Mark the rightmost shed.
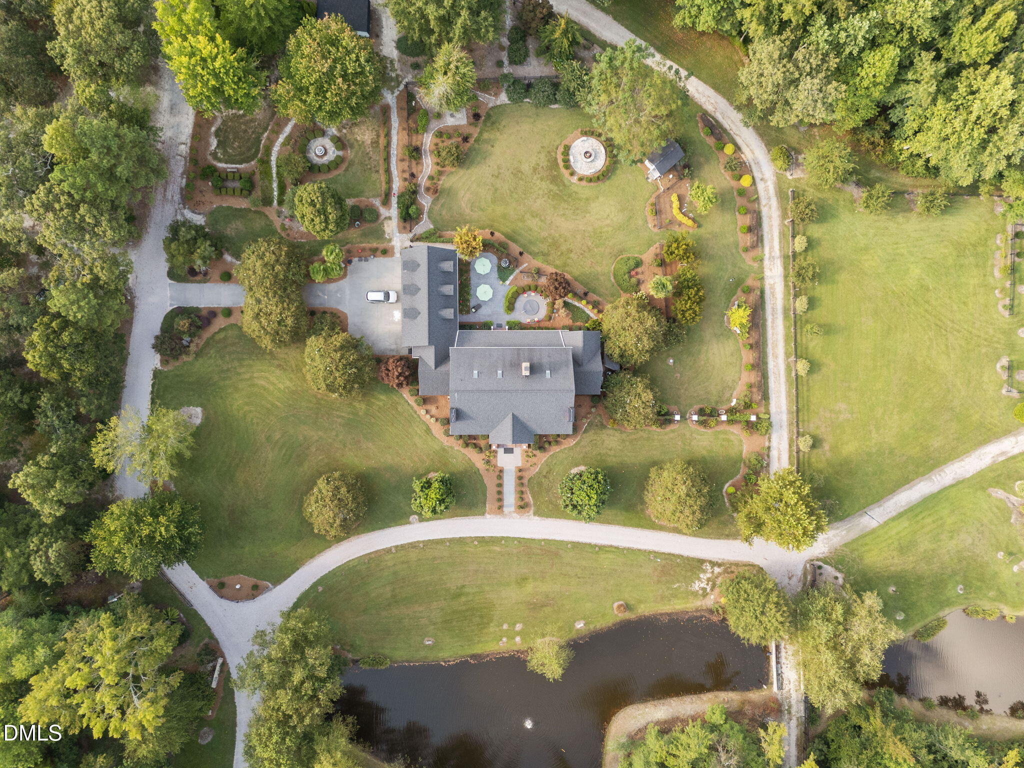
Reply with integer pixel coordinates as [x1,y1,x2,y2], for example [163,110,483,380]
[635,139,684,188]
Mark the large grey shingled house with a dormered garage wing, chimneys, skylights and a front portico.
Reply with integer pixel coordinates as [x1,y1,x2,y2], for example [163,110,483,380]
[400,245,602,447]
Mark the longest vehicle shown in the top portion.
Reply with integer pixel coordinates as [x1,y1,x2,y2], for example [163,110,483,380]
[366,289,398,304]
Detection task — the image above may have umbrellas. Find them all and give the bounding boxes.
[477,284,493,301]
[475,258,491,275]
